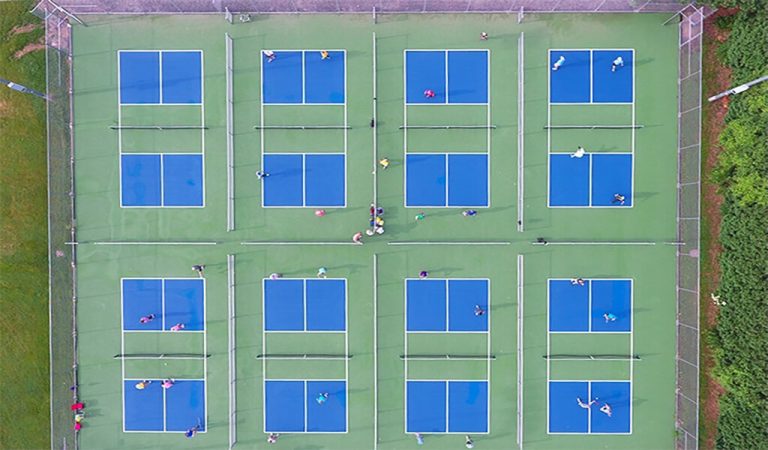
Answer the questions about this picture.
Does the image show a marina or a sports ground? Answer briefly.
sports ground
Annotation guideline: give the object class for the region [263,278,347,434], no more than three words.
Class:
sports court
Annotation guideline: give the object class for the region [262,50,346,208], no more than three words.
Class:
sports court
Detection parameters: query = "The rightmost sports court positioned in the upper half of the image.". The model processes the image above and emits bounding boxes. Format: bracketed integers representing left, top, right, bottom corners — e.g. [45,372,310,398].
[548,49,634,208]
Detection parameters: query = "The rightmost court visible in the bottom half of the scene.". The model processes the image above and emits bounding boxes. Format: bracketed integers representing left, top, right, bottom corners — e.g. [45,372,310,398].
[548,278,633,434]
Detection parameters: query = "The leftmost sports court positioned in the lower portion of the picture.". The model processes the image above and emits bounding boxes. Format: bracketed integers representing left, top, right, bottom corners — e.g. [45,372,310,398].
[122,278,206,433]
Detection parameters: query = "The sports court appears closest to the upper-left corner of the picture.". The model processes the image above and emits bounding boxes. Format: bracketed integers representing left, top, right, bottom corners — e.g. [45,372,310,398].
[118,50,205,208]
